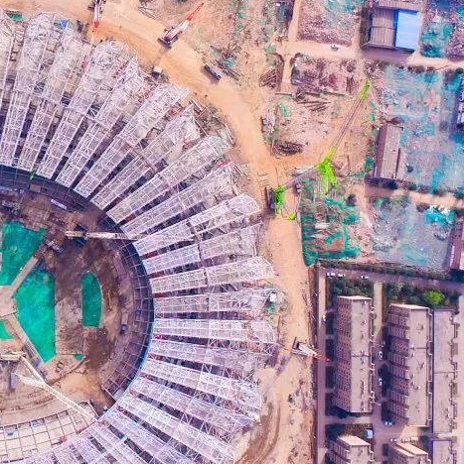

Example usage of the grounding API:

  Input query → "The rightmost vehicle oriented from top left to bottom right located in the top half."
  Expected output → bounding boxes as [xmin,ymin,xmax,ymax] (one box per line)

[205,63,224,80]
